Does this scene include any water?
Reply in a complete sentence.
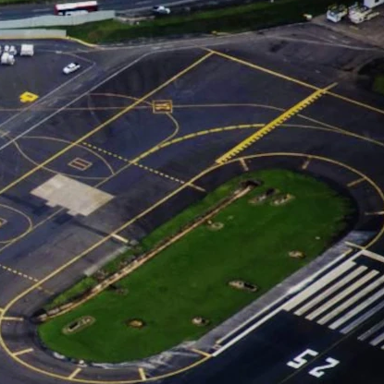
No, the picture contains no water.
